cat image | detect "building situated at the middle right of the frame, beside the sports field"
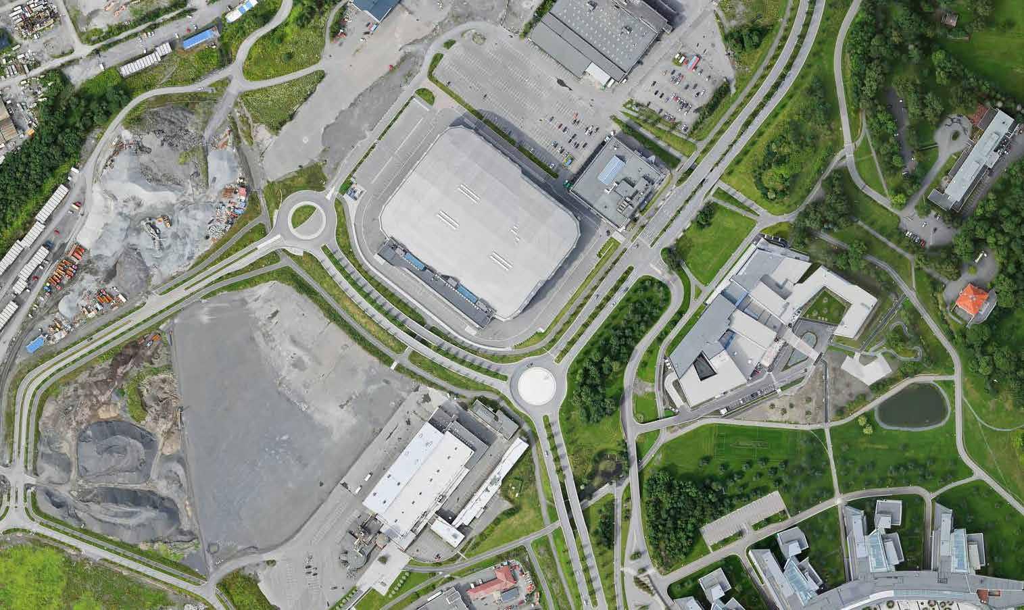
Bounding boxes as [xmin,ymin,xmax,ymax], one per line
[668,238,878,407]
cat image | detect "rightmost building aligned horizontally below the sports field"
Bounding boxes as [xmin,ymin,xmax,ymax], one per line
[672,498,1024,610]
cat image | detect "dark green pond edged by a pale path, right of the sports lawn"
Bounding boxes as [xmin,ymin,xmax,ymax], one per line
[874,380,951,431]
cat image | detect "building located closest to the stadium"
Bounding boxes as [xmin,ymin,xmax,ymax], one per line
[569,134,667,230]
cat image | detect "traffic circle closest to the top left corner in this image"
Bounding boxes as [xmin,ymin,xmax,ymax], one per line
[278,191,336,249]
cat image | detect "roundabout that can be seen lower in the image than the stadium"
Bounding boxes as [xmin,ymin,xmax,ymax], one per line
[507,356,567,417]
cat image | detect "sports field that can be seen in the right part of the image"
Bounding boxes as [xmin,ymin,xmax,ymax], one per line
[713,427,780,466]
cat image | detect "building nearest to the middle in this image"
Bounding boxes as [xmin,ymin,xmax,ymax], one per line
[468,400,519,440]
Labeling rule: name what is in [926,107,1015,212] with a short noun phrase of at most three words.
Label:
building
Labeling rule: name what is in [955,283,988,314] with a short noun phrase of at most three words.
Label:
house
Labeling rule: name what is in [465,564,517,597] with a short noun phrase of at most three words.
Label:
building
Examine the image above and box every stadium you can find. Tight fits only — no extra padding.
[373,123,582,336]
